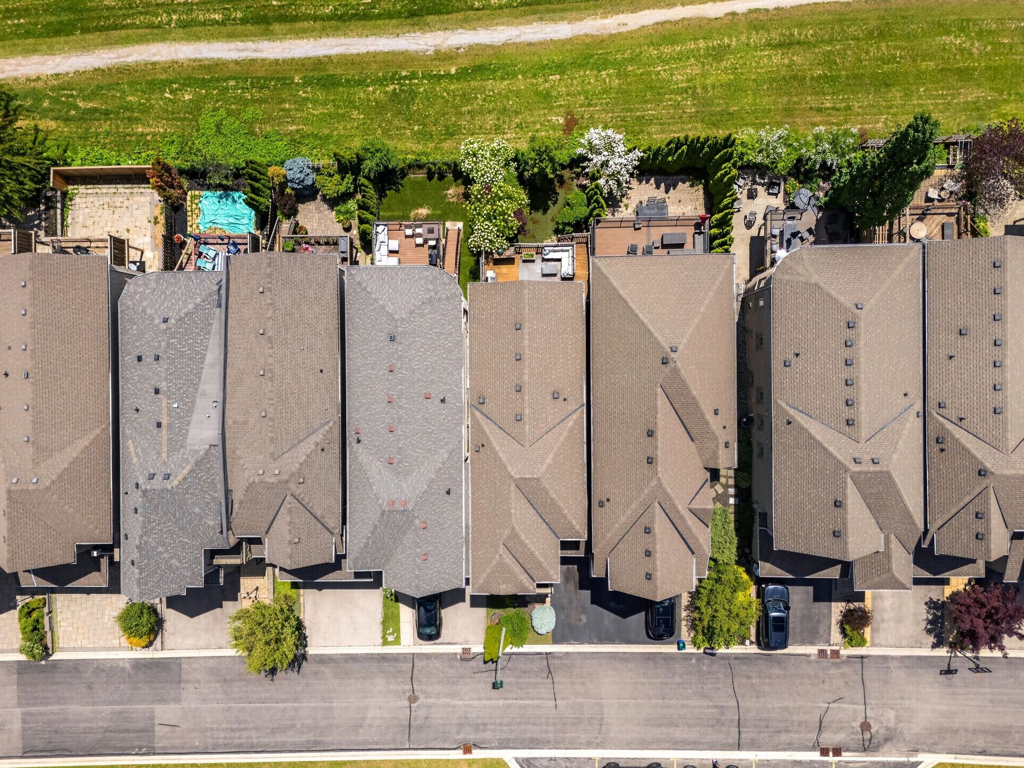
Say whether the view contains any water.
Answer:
No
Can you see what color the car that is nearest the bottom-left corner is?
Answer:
black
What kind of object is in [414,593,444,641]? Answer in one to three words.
car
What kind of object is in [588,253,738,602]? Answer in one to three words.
house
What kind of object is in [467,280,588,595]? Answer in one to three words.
house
